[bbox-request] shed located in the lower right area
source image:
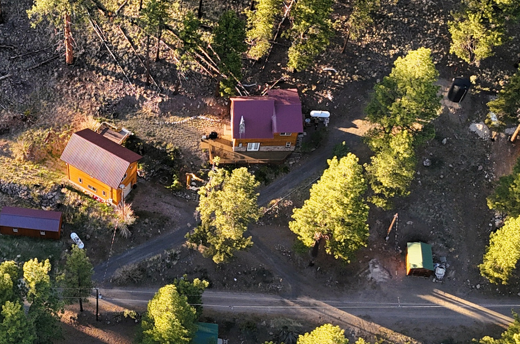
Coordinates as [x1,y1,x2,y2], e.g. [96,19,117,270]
[404,239,433,277]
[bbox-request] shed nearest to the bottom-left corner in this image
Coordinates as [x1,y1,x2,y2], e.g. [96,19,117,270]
[0,205,61,239]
